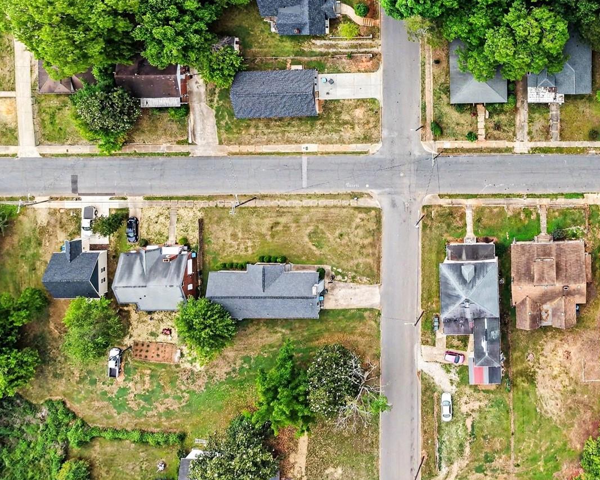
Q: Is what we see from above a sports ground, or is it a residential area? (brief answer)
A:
residential area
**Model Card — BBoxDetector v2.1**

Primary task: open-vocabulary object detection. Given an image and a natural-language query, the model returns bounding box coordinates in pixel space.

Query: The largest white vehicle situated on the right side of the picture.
[440,392,453,421]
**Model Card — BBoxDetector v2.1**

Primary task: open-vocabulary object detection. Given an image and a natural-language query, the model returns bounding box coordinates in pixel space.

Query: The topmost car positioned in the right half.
[444,350,465,363]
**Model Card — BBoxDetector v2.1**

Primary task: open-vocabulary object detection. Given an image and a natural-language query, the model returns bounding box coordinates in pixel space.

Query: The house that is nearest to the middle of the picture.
[202,261,323,319]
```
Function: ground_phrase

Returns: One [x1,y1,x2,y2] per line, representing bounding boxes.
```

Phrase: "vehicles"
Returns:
[444,350,465,363]
[126,216,140,242]
[440,392,453,421]
[80,206,96,238]
[109,347,124,377]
